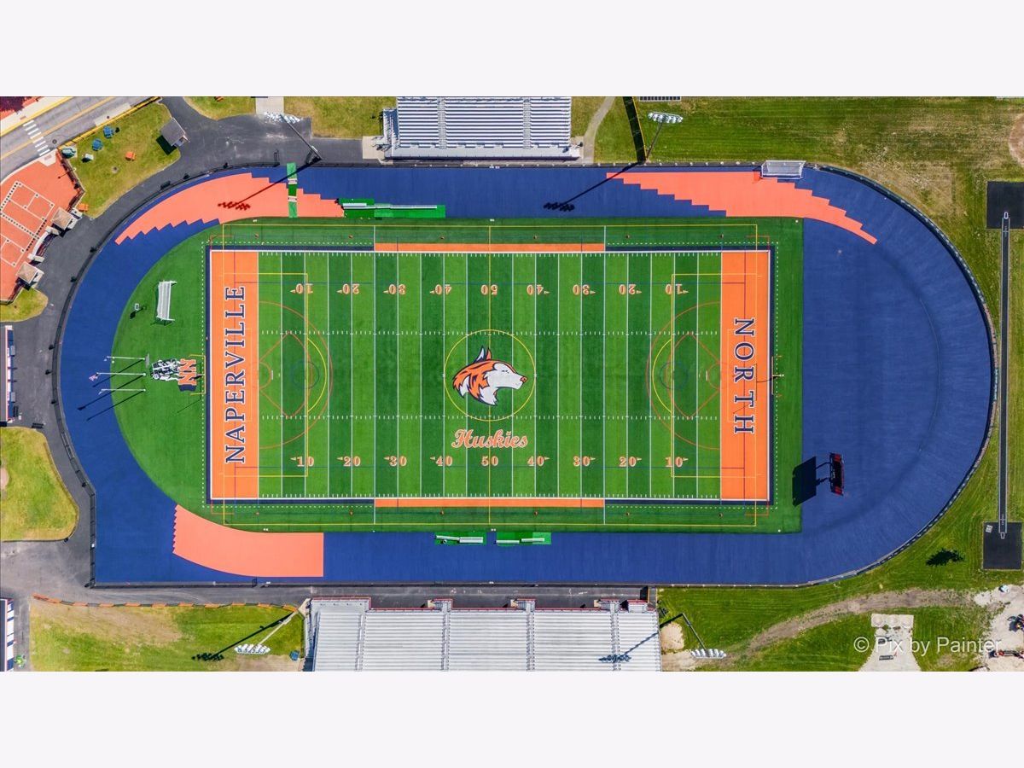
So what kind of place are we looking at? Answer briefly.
sports ground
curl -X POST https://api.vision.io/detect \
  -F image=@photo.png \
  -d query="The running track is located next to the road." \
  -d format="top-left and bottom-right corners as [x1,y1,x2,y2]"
[61,165,991,585]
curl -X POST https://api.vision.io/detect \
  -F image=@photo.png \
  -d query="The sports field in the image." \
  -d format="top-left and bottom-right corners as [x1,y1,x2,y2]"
[109,217,803,534]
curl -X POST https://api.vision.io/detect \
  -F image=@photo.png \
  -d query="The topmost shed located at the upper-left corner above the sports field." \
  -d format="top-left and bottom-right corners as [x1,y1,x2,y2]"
[162,120,191,149]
